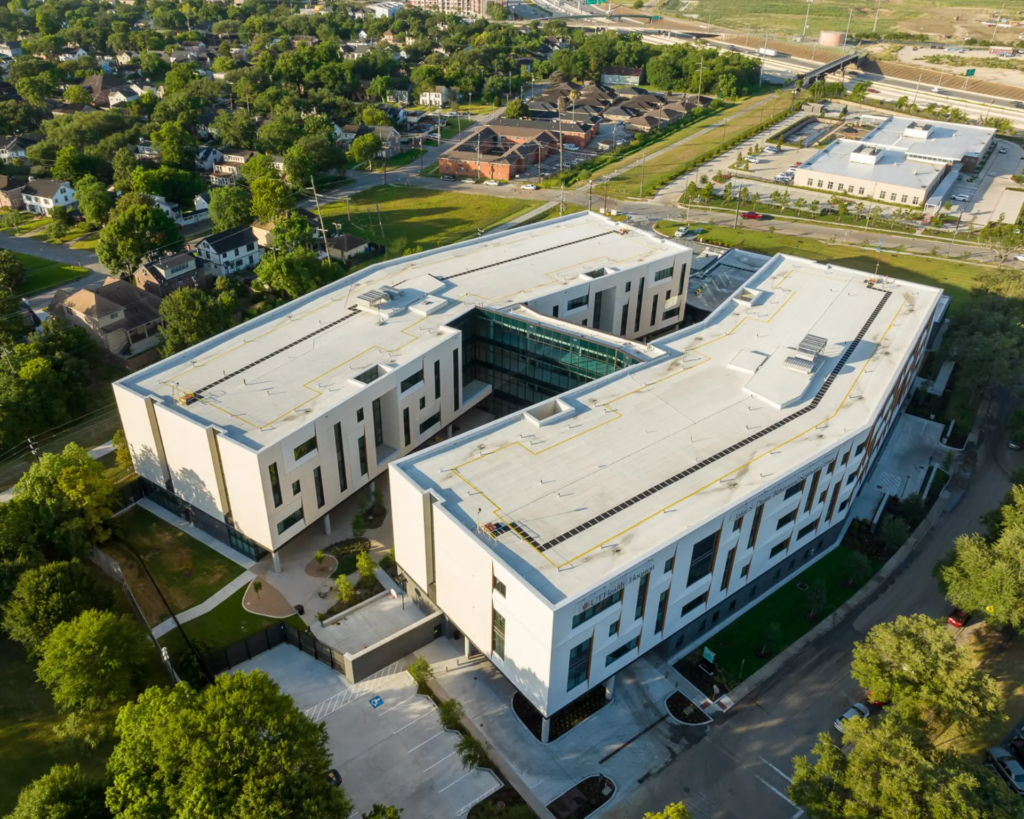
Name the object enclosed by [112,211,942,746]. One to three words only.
building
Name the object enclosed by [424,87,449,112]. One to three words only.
house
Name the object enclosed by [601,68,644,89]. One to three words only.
house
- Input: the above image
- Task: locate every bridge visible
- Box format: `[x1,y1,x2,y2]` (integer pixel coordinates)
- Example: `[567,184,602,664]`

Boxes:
[790,51,867,91]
